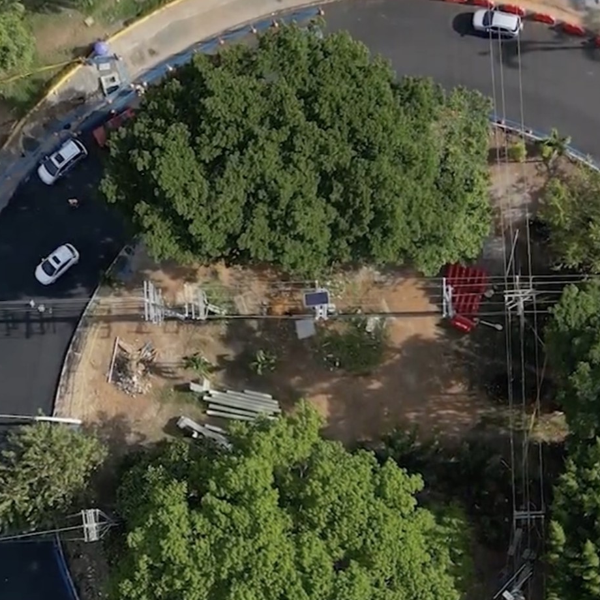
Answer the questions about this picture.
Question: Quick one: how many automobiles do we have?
3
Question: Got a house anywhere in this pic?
No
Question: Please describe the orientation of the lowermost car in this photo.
on a diagonal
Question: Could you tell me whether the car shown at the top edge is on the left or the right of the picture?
right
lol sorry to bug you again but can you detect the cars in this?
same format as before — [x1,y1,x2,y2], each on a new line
[473,6,526,37]
[32,241,80,283]
[35,138,87,181]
